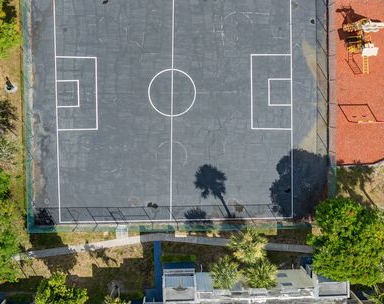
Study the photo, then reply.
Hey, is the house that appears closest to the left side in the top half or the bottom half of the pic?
bottom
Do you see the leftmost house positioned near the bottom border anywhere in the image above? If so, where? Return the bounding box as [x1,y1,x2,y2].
[111,268,198,304]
